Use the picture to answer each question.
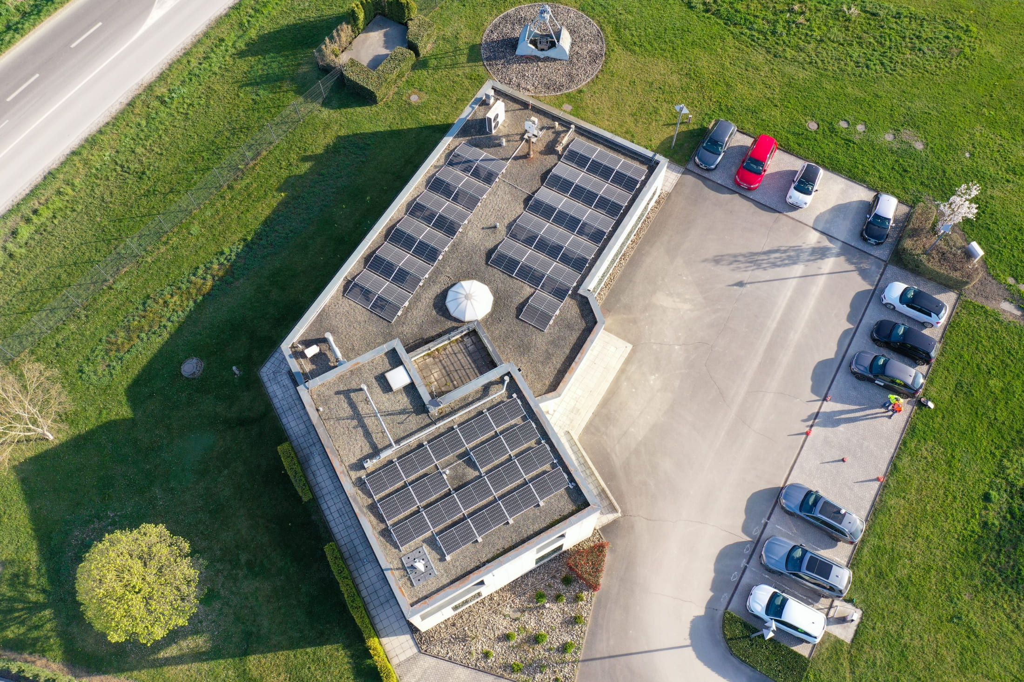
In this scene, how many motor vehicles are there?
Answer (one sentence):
The count of motor vehicles comes to 10.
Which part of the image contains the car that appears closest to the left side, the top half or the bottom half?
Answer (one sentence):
Seen from above, the car that appears closest to the left side lies in the top half of the view.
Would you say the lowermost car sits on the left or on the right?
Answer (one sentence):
You can find the lowermost car on the right side of the picture.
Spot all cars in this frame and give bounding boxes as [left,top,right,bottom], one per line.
[869,324,941,371]
[737,134,782,190]
[694,117,739,173]
[776,485,869,548]
[848,357,927,408]
[859,191,902,246]
[785,160,824,209]
[759,541,856,606]
[879,288,949,334]
[743,586,833,651]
